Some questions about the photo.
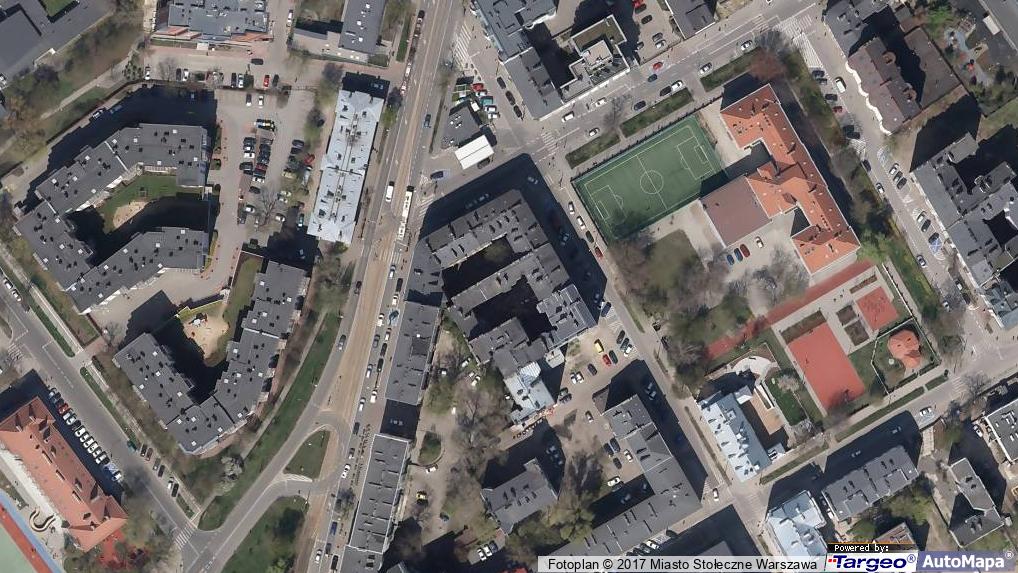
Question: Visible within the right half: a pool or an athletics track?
athletics track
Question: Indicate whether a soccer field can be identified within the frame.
Yes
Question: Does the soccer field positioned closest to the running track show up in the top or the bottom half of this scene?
top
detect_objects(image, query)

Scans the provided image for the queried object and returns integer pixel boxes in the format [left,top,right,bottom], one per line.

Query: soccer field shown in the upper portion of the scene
[572,115,731,243]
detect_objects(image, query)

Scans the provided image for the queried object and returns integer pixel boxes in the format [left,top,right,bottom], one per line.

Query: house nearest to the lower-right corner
[945,461,1004,547]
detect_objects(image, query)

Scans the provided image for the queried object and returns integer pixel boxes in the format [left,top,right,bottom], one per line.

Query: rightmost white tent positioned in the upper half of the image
[454,134,495,170]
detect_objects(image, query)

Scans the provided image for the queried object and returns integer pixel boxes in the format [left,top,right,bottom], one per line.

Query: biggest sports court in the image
[788,322,865,410]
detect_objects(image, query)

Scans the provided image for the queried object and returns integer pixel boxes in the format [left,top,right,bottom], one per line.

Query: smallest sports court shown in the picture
[856,287,898,331]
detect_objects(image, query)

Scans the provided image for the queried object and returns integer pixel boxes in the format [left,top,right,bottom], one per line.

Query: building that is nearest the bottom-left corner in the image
[0,394,129,552]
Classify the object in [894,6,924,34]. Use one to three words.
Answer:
shed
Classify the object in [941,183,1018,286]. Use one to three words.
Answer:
building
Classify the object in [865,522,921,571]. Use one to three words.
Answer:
house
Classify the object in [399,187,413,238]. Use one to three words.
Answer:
vehicle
